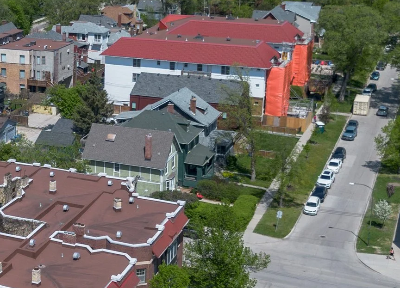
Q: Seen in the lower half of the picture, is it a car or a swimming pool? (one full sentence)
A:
There is a car in the lower half of the picture.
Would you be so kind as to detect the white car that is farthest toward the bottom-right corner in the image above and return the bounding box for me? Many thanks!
[303,197,322,213]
